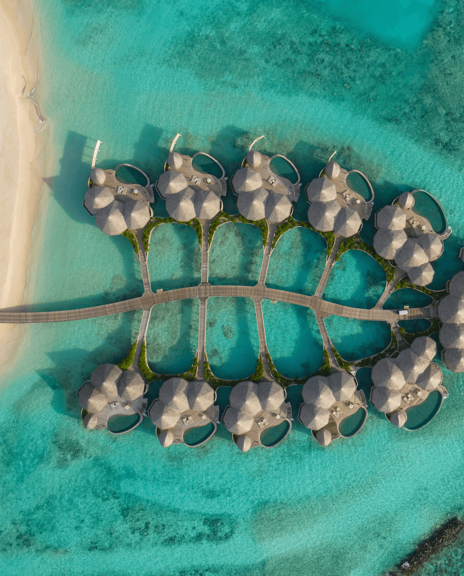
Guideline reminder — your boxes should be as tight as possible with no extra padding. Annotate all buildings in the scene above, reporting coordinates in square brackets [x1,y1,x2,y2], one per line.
[296,372,369,448]
[220,372,294,454]
[369,335,448,433]
[81,164,155,239]
[148,378,220,449]
[430,246,464,375]
[373,190,452,287]
[76,361,150,436]
[230,150,303,229]
[155,152,228,222]
[304,161,374,240]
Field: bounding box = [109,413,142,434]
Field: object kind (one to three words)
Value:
swimming pool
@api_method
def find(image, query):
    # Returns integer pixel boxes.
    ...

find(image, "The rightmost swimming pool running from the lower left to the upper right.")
[404,390,441,431]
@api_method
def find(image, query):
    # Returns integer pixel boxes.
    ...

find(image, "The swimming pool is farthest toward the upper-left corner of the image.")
[115,166,149,188]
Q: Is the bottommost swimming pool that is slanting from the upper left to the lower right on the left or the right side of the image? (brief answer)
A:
right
